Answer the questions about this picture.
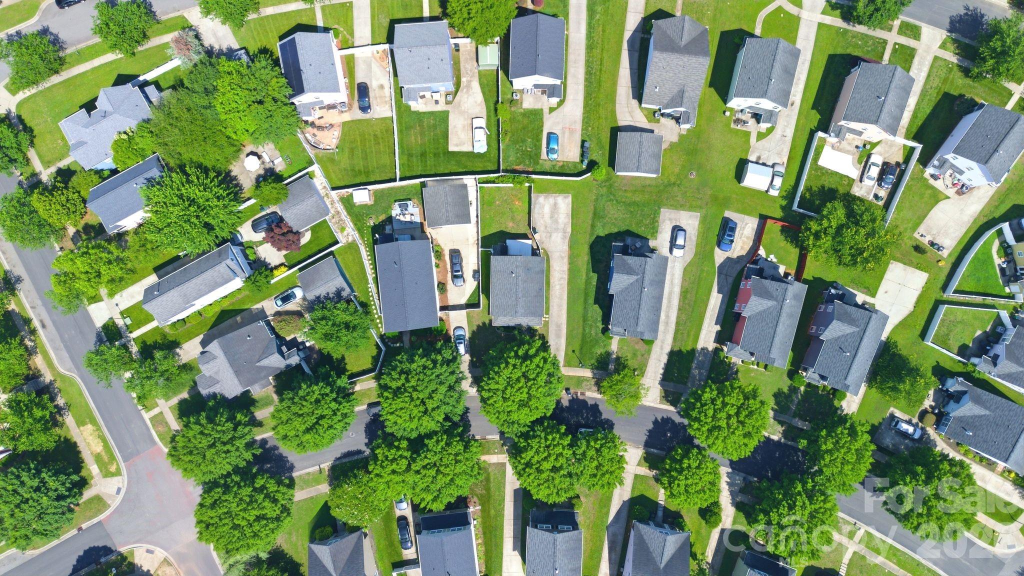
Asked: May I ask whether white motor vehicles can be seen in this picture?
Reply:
Yes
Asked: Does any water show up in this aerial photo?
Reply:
No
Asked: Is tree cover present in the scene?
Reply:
Yes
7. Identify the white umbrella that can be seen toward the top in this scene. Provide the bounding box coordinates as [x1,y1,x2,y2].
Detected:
[245,155,261,172]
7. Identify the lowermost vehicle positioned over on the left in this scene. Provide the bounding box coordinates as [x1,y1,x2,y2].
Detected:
[397,517,413,549]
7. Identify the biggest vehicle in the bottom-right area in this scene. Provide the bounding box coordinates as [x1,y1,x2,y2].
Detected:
[889,417,922,439]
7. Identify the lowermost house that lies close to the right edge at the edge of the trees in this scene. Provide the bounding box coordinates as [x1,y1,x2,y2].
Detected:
[931,376,1024,468]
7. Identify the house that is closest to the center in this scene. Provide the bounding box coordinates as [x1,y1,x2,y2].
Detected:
[489,240,546,326]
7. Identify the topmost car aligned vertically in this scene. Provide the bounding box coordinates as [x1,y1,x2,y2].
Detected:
[357,83,372,114]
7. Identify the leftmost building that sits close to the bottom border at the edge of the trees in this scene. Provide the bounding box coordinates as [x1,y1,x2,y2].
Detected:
[306,521,381,576]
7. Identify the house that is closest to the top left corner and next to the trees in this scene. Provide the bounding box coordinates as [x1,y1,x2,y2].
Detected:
[60,77,163,170]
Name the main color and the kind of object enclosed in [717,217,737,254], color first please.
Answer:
blue vehicle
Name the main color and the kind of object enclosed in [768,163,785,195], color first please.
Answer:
white car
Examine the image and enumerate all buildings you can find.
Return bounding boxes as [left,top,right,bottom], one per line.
[924,100,1024,187]
[296,256,354,311]
[931,376,1024,468]
[638,14,712,132]
[737,162,772,193]
[823,61,915,143]
[142,243,256,328]
[619,511,693,576]
[489,240,546,326]
[422,184,472,228]
[614,131,664,178]
[60,77,163,170]
[416,507,479,576]
[275,174,332,232]
[733,545,796,576]
[999,239,1024,295]
[278,31,348,121]
[306,521,381,576]
[722,265,808,369]
[478,44,499,69]
[509,14,566,102]
[353,189,372,204]
[724,36,801,128]
[374,232,440,332]
[606,243,668,341]
[525,506,584,576]
[87,153,184,235]
[394,21,453,105]
[195,320,305,398]
[799,288,889,396]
